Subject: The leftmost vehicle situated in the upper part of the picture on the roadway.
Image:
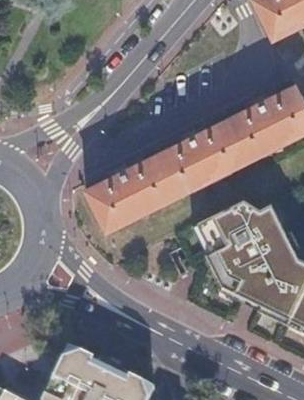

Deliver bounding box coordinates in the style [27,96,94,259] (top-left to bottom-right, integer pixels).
[105,52,123,72]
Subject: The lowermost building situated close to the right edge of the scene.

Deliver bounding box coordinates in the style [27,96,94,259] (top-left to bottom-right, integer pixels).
[193,201,304,336]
